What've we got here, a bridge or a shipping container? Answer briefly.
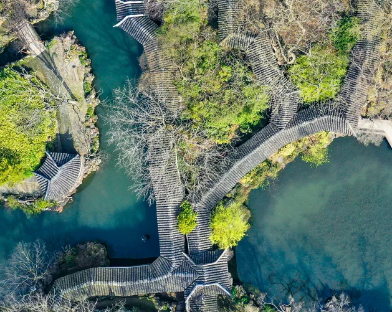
bridge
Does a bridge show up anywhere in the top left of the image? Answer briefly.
Yes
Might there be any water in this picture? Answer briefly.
Yes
